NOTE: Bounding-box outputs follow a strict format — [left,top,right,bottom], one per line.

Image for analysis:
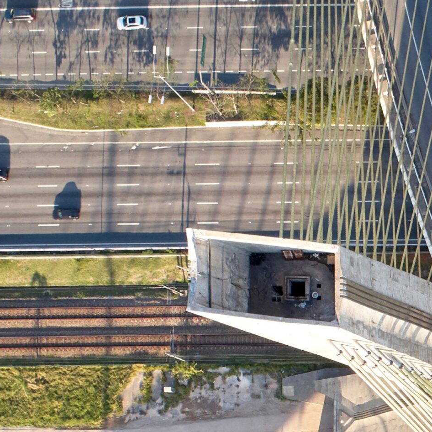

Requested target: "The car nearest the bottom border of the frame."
[54,206,81,221]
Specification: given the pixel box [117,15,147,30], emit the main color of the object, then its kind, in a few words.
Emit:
white car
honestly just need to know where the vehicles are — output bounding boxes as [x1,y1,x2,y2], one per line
[5,6,37,23]
[54,206,81,221]
[117,15,147,30]
[0,168,8,183]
